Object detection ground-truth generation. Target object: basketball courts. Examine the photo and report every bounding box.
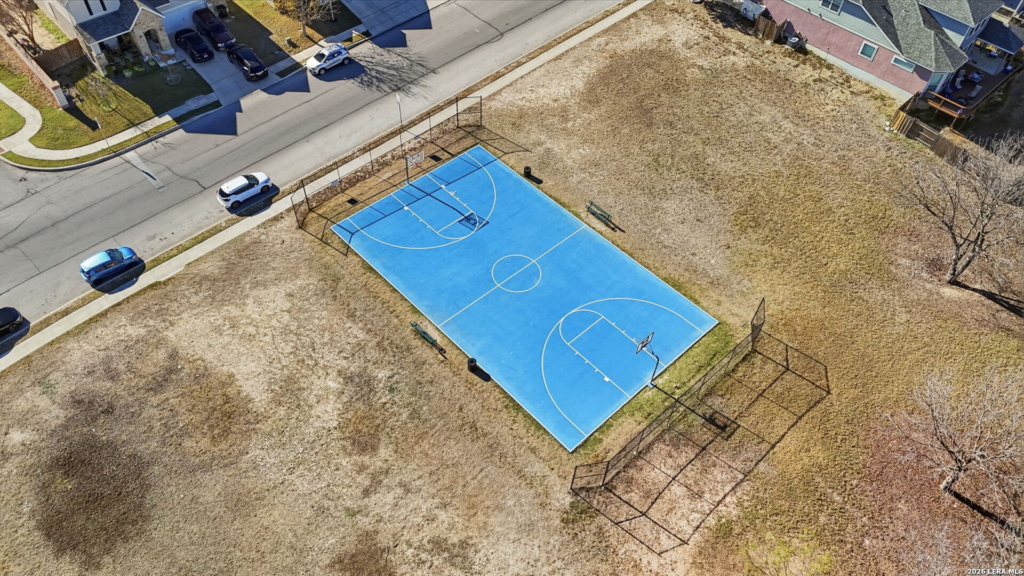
[331,145,718,452]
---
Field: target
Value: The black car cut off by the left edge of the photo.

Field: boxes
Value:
[0,303,26,335]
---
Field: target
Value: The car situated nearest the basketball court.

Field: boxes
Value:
[213,171,271,210]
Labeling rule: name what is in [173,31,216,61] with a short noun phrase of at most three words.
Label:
car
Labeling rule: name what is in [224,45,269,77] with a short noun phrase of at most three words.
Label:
car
